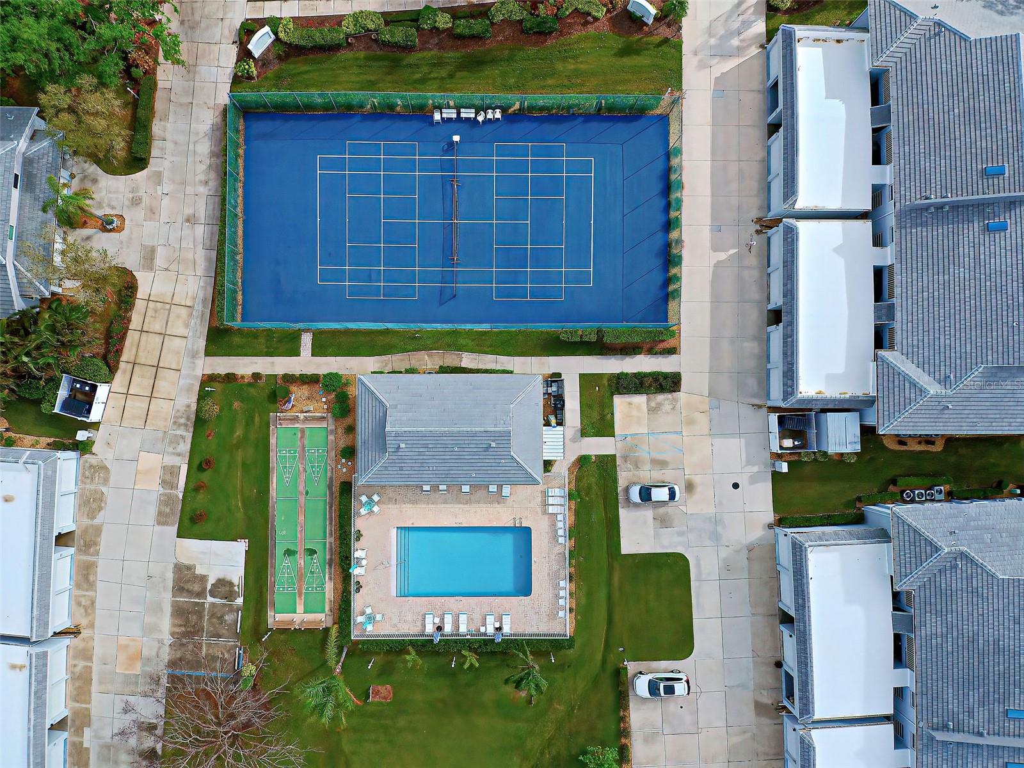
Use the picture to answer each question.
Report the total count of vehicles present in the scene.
two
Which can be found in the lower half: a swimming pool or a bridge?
swimming pool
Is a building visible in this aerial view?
Yes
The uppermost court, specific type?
tennis court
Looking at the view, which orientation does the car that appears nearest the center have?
from left to right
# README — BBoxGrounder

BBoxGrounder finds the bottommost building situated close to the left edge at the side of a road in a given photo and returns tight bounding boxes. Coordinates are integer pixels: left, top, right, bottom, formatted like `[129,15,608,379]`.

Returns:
[0,631,70,768]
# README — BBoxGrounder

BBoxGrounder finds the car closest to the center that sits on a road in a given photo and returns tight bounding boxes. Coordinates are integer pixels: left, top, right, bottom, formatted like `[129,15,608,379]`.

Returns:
[627,481,681,507]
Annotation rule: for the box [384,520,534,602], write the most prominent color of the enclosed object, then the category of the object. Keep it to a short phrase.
blue swimming pool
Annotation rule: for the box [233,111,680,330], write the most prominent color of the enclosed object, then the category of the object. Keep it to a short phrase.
blue tennis court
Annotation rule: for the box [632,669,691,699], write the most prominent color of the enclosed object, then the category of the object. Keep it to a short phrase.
white car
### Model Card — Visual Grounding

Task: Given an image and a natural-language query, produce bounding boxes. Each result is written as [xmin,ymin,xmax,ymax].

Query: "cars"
[627,481,681,507]
[632,669,691,699]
